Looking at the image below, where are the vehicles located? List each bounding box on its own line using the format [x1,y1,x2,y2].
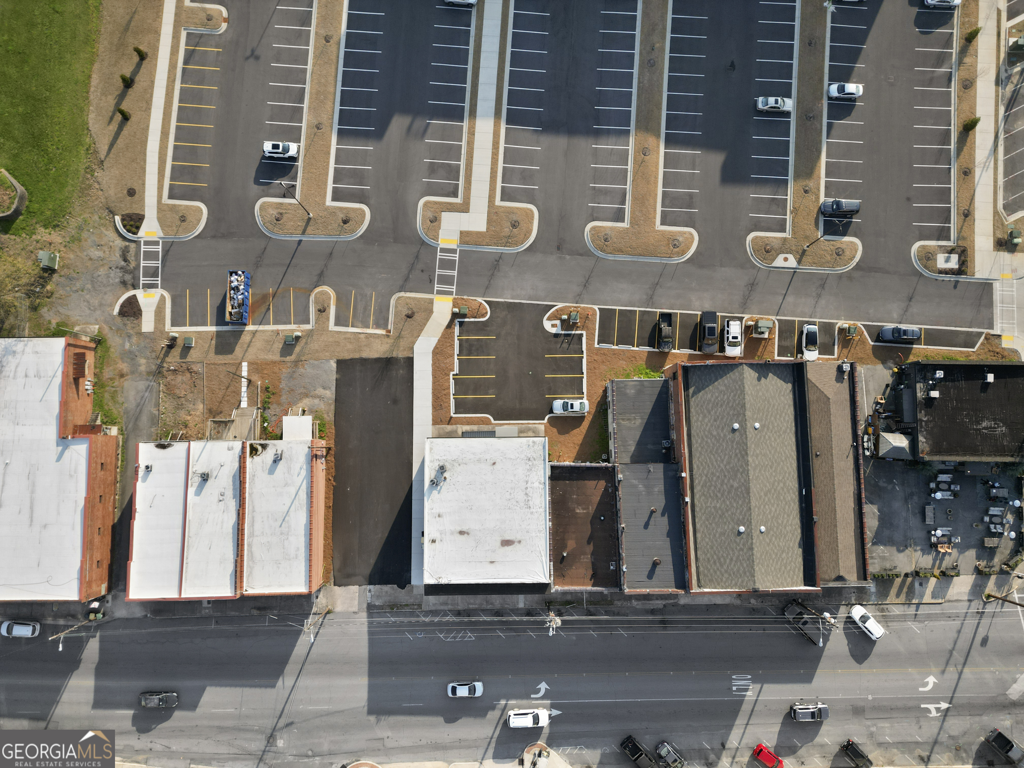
[850,604,884,642]
[879,325,920,343]
[700,310,719,355]
[447,679,485,699]
[755,97,791,115]
[552,399,589,415]
[922,0,960,11]
[620,733,655,768]
[656,310,675,355]
[839,738,874,768]
[723,318,742,358]
[782,603,825,647]
[800,325,820,361]
[2,619,42,638]
[825,83,863,101]
[754,742,791,768]
[985,728,1024,768]
[139,689,180,709]
[820,200,859,218]
[263,141,300,160]
[787,702,831,723]
[507,707,549,729]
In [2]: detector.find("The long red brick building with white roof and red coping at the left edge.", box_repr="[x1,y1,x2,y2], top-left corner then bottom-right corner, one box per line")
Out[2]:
[0,336,122,603]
